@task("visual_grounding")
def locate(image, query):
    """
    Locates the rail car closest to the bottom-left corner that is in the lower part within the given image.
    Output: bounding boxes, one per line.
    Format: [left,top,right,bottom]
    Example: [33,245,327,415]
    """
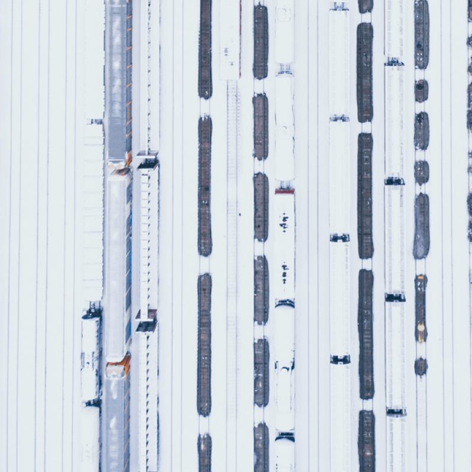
[79,398,103,472]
